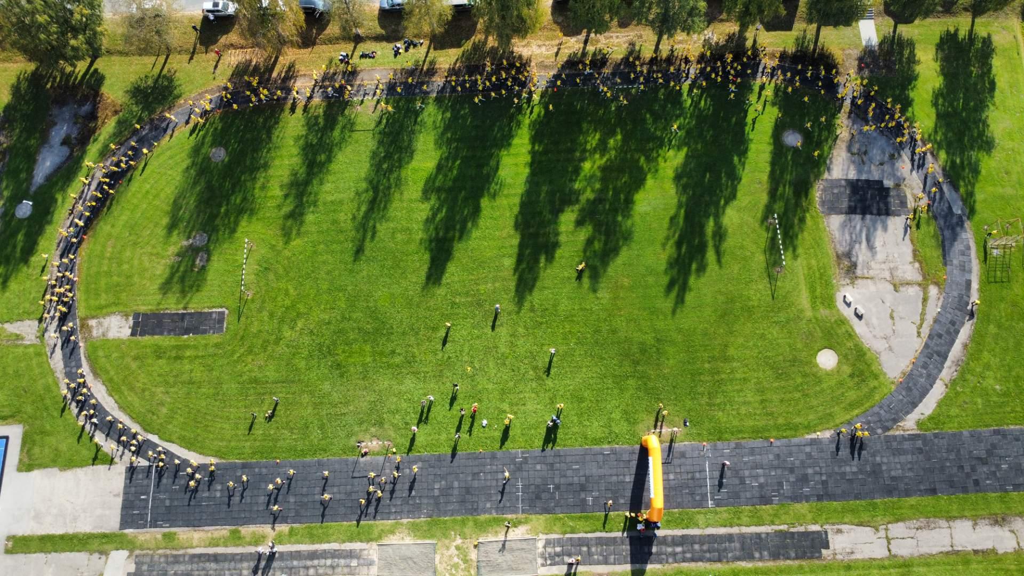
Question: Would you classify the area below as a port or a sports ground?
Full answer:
This image shows a sports ground.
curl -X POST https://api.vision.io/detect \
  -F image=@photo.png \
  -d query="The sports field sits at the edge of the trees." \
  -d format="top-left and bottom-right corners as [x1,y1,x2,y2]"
[78,79,944,461]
